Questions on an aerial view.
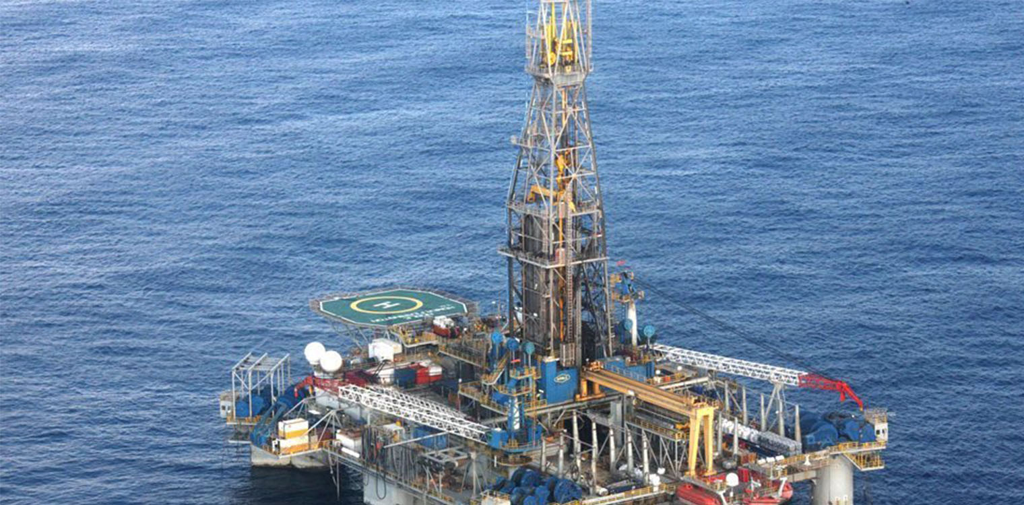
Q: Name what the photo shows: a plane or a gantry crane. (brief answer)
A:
gantry crane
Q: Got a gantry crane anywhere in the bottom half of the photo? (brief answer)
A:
Yes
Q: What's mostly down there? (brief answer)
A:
water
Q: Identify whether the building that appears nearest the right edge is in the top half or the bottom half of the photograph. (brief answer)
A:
bottom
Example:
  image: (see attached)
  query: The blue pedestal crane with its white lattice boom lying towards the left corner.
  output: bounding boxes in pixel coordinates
[305,364,539,465]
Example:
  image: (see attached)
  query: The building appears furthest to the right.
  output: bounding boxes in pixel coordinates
[868,414,890,444]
